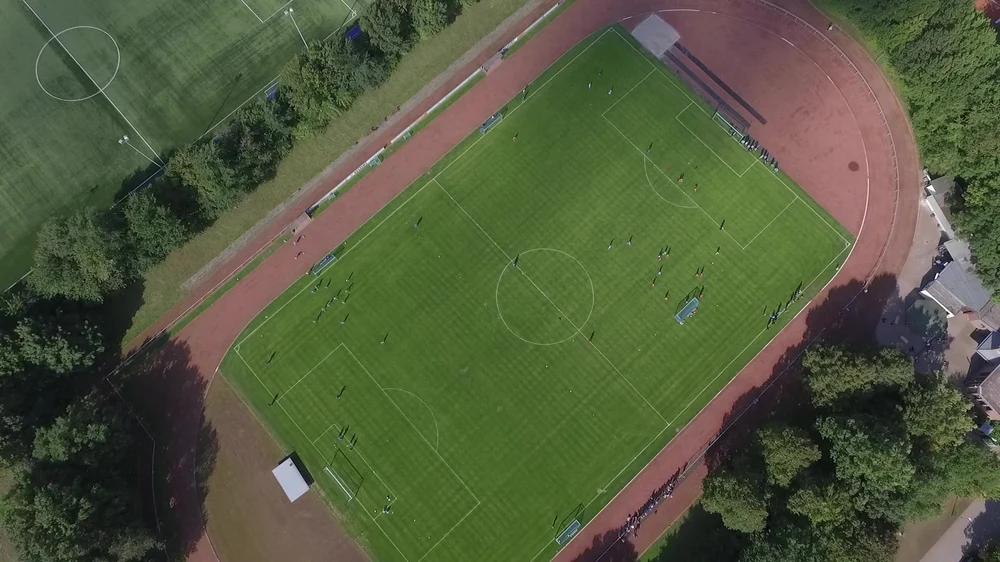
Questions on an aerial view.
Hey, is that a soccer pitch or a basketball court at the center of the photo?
soccer pitch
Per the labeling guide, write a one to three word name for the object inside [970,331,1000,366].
building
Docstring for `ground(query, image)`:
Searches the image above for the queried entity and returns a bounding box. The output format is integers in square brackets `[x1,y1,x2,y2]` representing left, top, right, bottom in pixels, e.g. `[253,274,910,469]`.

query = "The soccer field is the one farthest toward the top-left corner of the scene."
[0,0,381,310]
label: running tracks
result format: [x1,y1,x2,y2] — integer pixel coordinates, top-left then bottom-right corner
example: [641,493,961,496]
[152,0,896,562]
